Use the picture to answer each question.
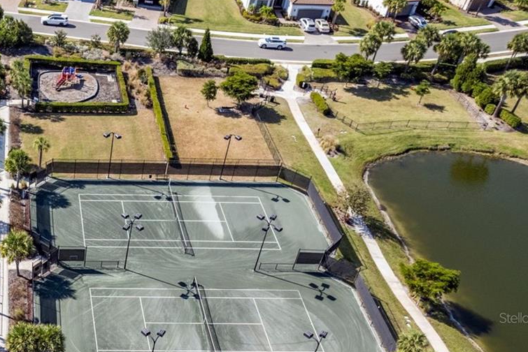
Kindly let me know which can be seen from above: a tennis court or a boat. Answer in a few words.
tennis court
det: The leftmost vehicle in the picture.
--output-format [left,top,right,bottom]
[42,13,68,26]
